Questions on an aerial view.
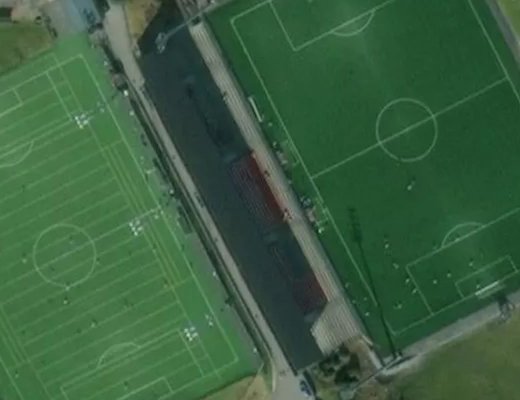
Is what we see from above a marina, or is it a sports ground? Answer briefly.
sports ground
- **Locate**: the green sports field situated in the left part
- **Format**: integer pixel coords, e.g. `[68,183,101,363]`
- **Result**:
[0,35,258,400]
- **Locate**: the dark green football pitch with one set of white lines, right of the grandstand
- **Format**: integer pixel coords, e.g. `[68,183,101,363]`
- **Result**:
[205,0,520,361]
